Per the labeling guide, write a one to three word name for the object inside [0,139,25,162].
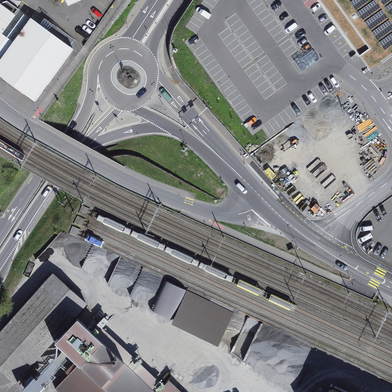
rail car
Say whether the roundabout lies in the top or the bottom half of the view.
top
